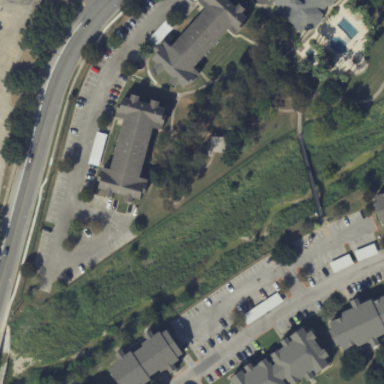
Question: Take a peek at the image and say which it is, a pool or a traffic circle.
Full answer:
I can see a pool in this picture.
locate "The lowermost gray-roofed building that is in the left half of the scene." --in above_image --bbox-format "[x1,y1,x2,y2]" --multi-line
[112,330,186,384]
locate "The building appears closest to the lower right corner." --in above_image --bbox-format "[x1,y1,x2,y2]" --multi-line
[330,298,384,354]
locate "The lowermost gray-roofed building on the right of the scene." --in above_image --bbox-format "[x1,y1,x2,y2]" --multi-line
[230,326,334,384]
